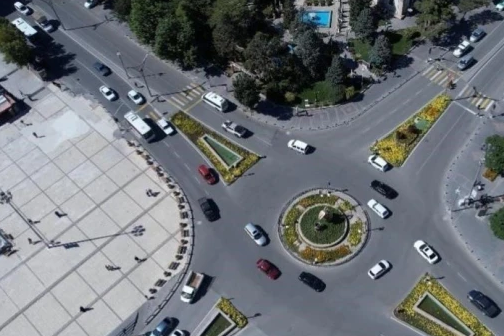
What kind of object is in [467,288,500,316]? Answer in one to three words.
car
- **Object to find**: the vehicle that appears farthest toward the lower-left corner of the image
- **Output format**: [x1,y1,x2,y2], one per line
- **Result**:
[148,318,174,336]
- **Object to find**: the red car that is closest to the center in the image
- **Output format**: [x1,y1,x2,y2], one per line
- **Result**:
[196,163,218,184]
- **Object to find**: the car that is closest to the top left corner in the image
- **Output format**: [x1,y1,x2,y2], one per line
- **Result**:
[12,1,31,16]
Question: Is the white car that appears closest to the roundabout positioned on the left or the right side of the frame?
right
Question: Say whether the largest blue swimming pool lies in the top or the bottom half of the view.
top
